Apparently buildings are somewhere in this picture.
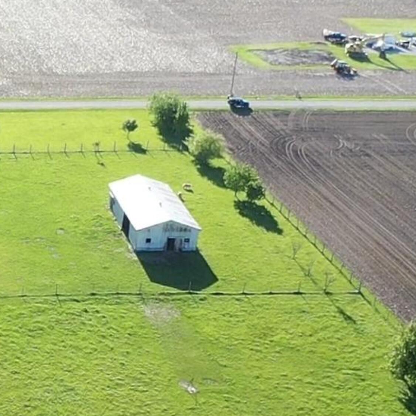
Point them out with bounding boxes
[107,174,205,251]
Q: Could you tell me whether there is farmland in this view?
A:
Yes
